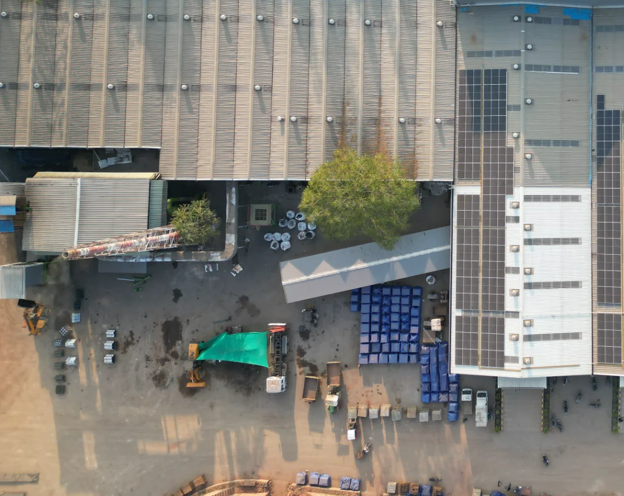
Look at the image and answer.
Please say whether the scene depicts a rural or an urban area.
urban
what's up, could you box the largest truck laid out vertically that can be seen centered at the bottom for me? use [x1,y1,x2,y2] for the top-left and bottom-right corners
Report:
[262,326,285,396]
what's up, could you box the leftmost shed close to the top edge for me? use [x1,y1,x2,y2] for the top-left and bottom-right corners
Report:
[0,0,166,148]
